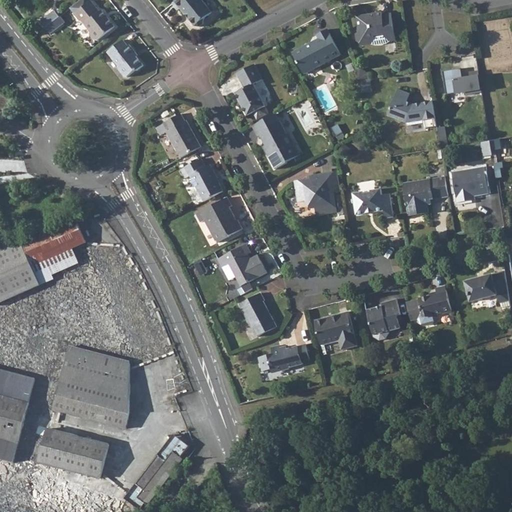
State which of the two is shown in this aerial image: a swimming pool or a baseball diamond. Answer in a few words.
swimming pool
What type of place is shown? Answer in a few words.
residential area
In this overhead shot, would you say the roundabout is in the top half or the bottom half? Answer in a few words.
top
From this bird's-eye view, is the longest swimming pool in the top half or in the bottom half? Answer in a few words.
top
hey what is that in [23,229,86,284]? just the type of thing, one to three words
building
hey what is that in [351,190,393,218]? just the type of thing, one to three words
house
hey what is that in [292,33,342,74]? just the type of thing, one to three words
house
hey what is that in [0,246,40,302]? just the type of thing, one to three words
building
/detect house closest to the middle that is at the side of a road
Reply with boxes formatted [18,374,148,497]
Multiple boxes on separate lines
[216,243,269,300]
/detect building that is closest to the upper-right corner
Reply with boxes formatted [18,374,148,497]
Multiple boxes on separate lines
[444,68,481,98]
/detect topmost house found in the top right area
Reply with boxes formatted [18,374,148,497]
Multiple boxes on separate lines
[355,10,396,45]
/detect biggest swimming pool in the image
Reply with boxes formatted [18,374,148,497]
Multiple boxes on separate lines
[314,84,338,116]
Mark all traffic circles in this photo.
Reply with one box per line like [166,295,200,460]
[42,100,132,192]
